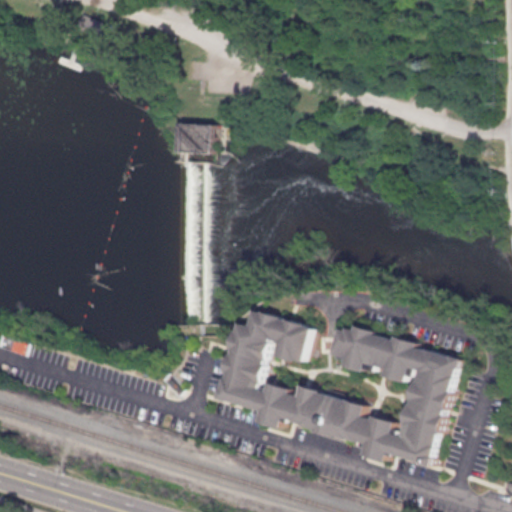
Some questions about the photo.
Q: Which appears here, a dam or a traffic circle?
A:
dam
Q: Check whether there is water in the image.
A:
Yes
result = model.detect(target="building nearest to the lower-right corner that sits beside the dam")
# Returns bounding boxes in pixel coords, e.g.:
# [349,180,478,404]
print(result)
[210,310,463,467]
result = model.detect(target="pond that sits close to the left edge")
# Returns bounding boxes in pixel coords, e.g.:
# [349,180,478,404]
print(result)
[0,48,184,350]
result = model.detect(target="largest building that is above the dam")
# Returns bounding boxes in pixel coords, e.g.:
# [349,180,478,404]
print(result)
[175,124,214,154]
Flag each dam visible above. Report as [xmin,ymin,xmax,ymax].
[176,154,244,338]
